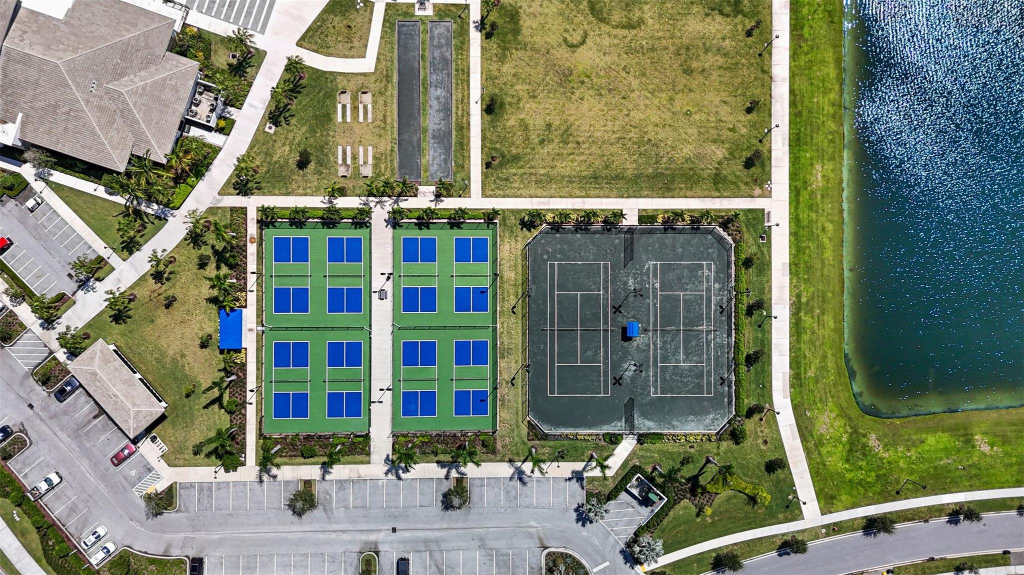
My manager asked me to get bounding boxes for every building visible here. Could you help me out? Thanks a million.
[67,338,166,440]
[0,0,204,178]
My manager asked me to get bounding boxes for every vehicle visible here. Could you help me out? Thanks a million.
[20,196,42,211]
[50,378,77,403]
[0,236,11,252]
[187,558,202,575]
[107,444,135,469]
[395,558,409,575]
[0,425,11,442]
[86,542,117,568]
[78,527,106,552]
[24,472,60,502]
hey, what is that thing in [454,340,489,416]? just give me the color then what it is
blue sports court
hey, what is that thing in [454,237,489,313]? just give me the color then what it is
blue sports court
